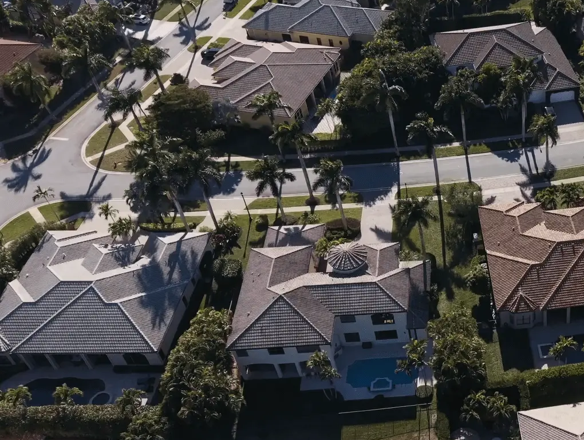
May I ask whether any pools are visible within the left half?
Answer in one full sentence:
Yes, a pool shows up within the left half.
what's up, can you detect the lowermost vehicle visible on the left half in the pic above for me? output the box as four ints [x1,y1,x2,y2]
[199,44,225,60]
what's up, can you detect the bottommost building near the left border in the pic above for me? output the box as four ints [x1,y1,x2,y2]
[0,230,209,373]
